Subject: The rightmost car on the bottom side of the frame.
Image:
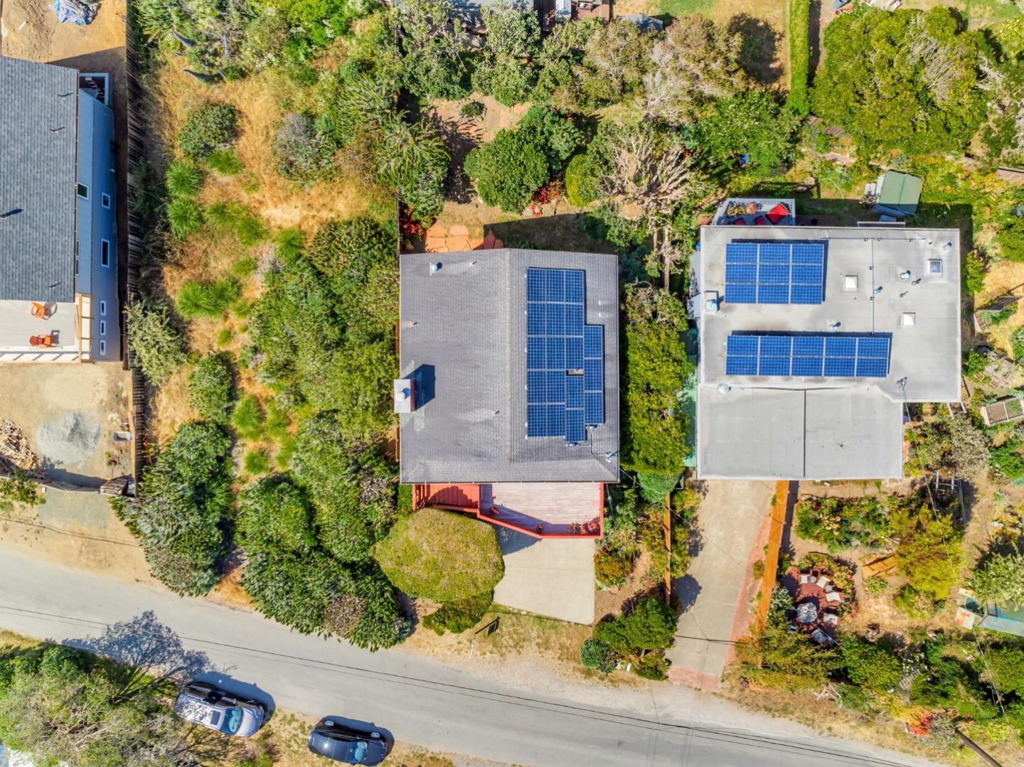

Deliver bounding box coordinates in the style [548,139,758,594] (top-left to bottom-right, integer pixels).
[305,720,389,767]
